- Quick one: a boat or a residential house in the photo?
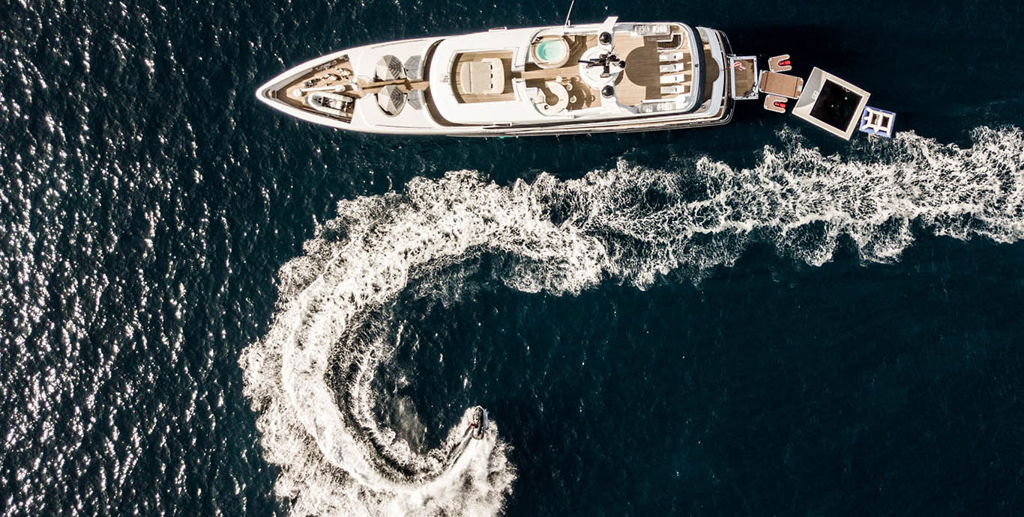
boat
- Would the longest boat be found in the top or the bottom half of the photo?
top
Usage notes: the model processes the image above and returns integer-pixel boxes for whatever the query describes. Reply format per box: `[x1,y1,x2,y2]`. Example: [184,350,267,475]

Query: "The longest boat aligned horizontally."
[254,2,736,139]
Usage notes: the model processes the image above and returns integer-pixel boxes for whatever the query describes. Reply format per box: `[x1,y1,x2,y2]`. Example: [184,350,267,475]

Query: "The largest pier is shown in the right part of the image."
[732,53,758,100]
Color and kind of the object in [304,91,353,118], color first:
white boat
